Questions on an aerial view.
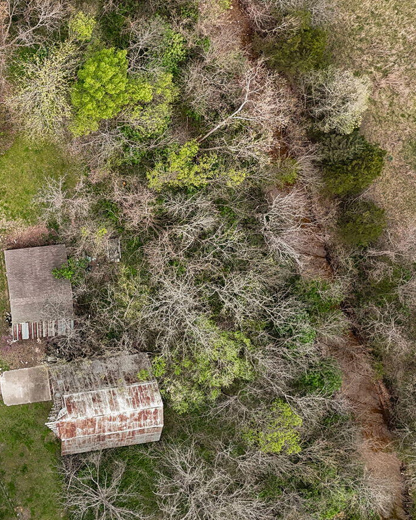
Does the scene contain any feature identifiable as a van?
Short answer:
No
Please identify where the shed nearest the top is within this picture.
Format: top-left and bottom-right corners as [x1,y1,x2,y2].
[4,244,74,342]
